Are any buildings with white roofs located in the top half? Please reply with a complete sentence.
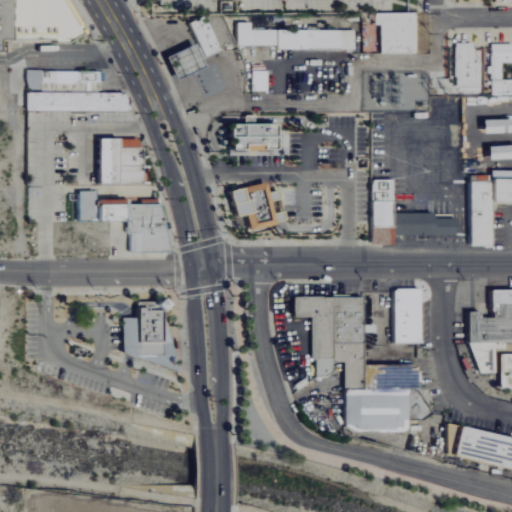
Yes, a building with a white roof can be seen in the top half.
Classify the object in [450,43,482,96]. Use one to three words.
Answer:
building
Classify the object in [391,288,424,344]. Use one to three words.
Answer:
building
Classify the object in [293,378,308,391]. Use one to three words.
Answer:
vehicle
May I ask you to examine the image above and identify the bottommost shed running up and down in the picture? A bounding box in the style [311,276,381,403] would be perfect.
[444,424,458,454]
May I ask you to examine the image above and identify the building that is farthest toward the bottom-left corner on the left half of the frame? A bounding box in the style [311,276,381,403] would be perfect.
[120,302,165,356]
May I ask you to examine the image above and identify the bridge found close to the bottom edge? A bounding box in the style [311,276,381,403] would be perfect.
[190,427,240,512]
